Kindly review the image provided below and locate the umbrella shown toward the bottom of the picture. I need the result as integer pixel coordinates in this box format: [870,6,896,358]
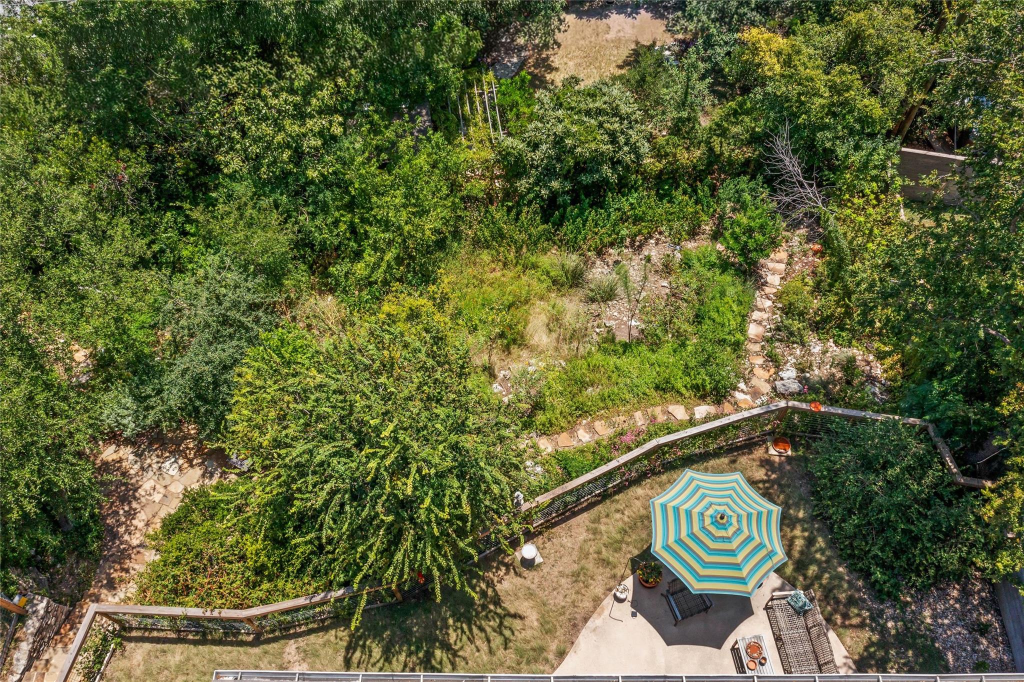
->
[648,468,788,601]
